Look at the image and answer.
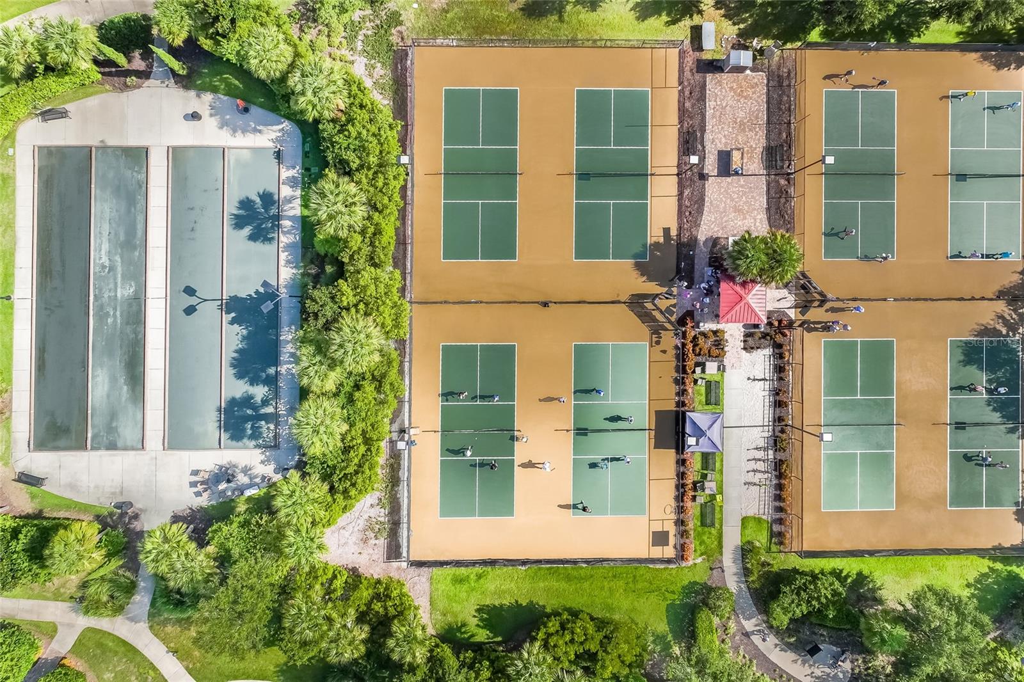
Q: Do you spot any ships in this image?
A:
No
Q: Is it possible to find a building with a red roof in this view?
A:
Yes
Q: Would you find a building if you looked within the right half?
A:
Yes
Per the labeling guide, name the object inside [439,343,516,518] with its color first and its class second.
green sports court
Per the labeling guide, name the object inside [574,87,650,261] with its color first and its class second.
green sports court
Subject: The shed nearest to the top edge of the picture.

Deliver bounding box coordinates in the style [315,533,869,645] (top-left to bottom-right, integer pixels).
[726,50,756,76]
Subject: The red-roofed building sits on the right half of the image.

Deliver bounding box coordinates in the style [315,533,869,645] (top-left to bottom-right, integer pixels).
[712,272,766,321]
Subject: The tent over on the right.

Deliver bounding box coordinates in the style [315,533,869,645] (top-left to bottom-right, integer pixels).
[677,410,721,450]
